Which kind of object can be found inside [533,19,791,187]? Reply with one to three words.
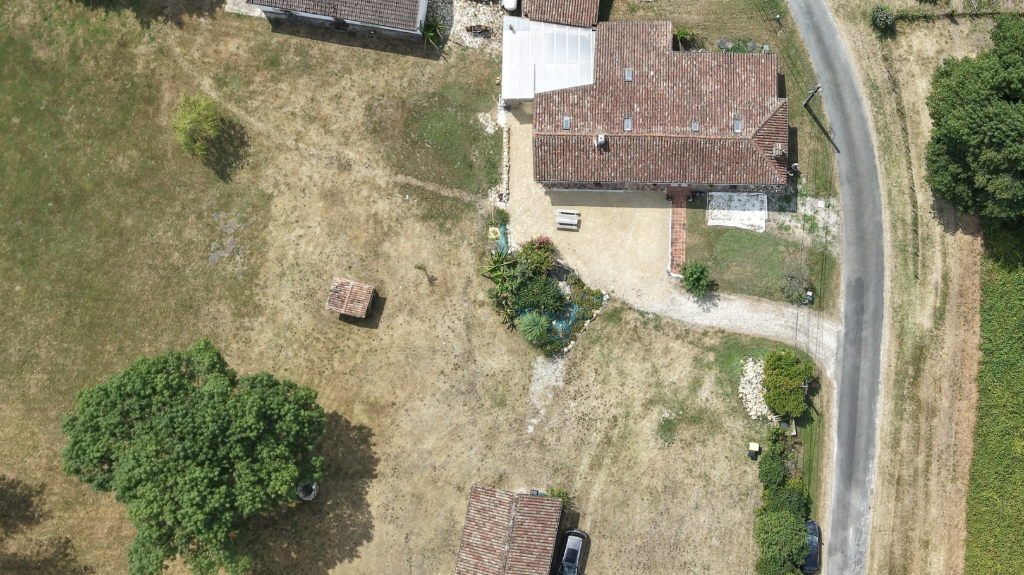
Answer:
house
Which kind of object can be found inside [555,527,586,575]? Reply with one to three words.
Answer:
car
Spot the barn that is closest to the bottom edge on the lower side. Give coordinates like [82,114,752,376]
[455,484,562,575]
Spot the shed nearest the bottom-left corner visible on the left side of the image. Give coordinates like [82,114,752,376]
[326,277,376,319]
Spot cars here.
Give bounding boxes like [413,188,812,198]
[555,527,586,575]
[796,519,823,575]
